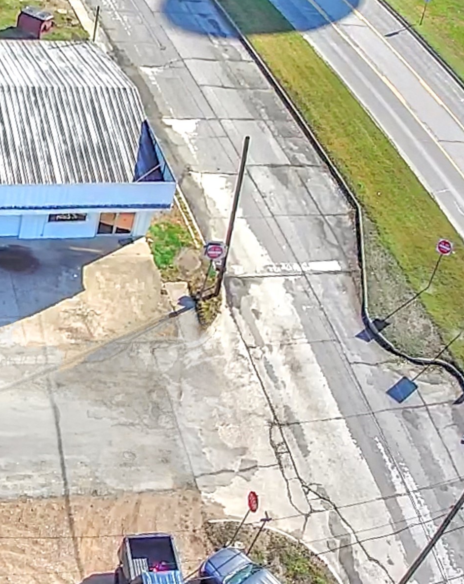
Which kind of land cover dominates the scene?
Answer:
paved ground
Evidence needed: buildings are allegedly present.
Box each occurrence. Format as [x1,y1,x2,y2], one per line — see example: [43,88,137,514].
[18,0,58,39]
[0,39,178,238]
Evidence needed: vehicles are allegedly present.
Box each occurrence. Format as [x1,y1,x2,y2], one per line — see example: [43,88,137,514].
[123,538,185,584]
[188,540,272,584]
